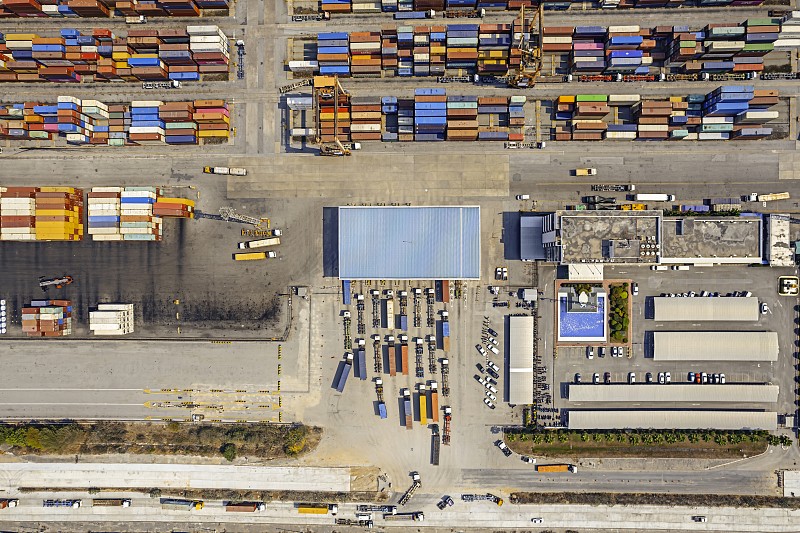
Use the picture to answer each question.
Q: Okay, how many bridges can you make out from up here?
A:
0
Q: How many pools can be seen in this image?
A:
1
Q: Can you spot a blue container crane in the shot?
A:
No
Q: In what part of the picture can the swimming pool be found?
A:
right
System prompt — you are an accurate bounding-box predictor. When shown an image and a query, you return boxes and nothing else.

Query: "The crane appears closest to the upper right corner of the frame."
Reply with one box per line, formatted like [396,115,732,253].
[505,0,548,85]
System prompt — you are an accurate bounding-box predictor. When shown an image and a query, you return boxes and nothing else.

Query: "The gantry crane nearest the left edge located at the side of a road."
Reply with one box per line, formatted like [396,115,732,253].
[311,74,355,156]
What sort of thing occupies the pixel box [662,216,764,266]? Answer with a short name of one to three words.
building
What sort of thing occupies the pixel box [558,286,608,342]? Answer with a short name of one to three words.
swimming pool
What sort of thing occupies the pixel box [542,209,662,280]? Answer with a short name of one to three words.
building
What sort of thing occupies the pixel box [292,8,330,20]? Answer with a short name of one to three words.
vehicle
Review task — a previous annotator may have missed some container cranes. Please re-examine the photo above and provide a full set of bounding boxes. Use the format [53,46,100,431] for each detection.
[311,74,355,156]
[505,0,548,85]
